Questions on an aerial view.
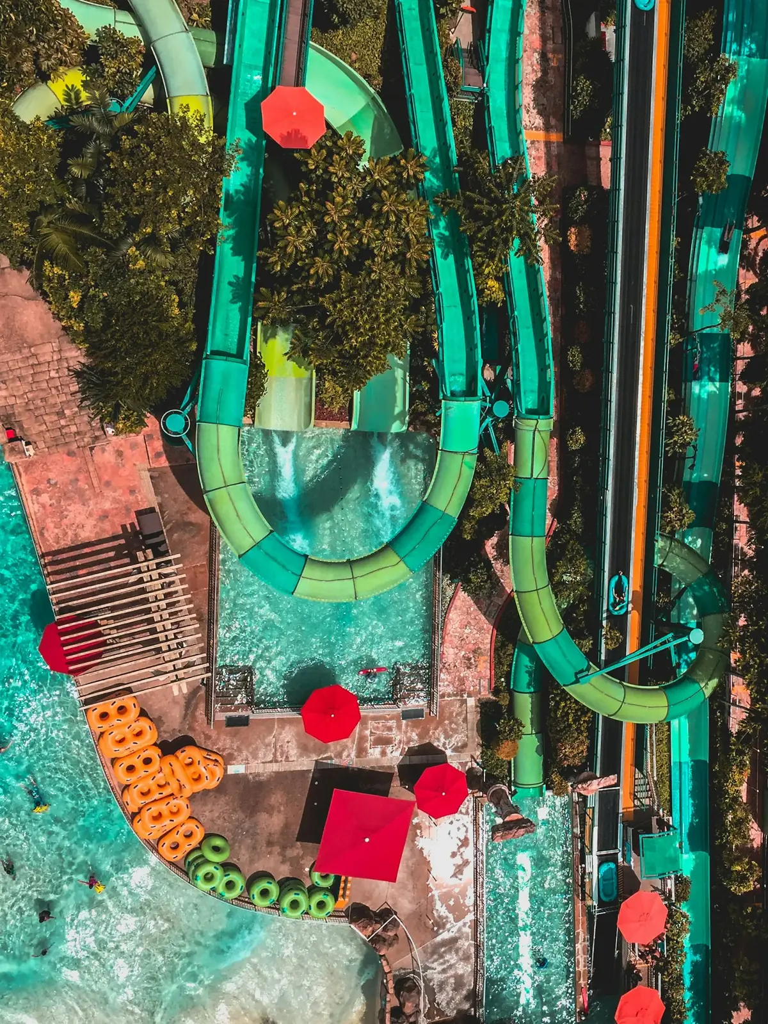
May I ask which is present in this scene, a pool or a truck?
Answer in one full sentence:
There is a pool in the scene.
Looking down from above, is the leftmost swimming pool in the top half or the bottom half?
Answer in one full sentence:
It is in the bottom half that the leftmost swimming pool appears.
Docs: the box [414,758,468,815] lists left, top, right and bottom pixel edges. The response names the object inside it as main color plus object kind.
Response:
red umbrella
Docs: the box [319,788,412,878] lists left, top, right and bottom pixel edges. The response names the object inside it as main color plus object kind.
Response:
red umbrella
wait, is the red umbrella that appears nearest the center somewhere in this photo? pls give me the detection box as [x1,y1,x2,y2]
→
[302,682,360,741]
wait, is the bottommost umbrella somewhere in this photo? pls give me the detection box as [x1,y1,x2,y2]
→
[612,961,665,1024]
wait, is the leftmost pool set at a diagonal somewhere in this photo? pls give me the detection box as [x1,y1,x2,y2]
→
[0,453,387,1024]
